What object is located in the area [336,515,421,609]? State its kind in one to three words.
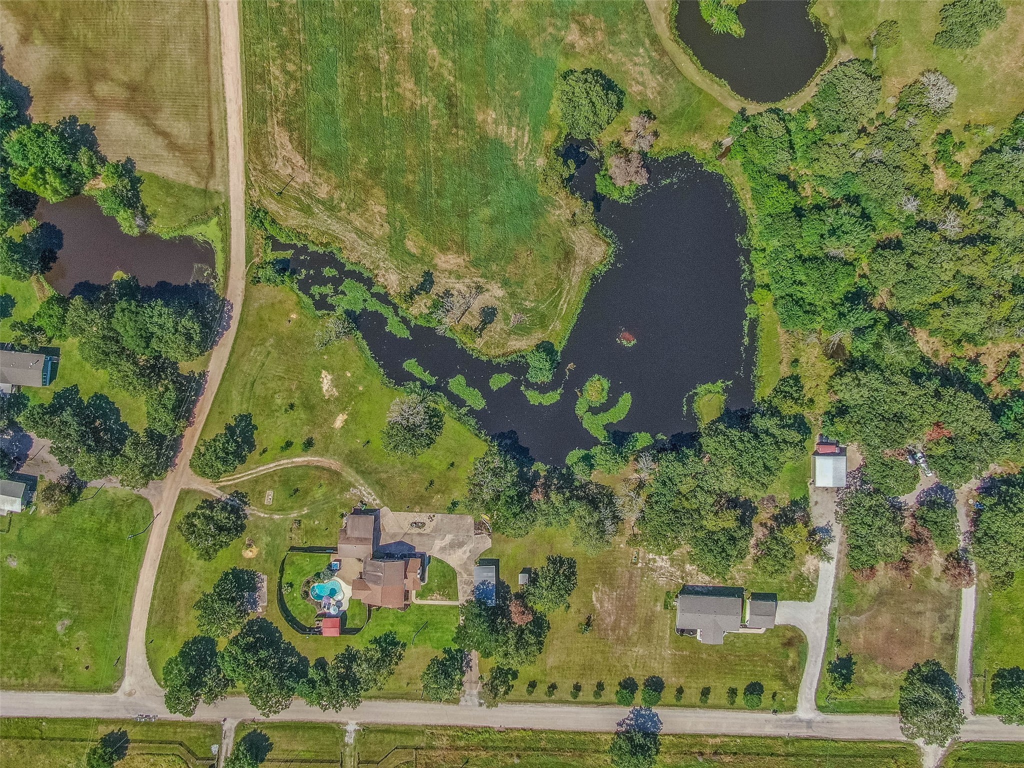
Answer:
house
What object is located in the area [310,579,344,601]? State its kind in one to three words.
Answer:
swimming pool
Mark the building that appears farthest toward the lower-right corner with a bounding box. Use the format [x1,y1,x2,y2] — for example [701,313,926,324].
[747,600,776,628]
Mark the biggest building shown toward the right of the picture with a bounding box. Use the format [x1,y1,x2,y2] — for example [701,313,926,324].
[677,593,743,646]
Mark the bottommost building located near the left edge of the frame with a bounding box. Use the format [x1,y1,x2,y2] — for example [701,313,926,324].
[0,482,31,514]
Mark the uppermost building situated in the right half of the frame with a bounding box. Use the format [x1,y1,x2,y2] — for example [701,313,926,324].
[808,456,846,487]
